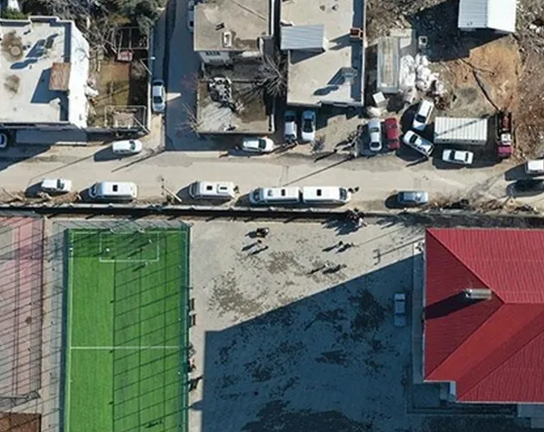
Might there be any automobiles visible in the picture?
Yes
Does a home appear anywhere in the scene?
Yes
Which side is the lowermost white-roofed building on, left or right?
right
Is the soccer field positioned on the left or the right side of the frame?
left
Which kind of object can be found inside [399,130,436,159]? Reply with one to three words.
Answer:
car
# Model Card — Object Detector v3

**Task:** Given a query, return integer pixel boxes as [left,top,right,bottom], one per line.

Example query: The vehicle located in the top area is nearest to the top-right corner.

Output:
[497,114,515,159]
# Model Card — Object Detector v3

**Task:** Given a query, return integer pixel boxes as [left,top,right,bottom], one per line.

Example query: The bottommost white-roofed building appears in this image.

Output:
[433,117,488,146]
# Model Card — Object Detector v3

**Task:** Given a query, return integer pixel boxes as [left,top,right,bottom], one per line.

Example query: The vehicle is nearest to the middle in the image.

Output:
[253,186,299,206]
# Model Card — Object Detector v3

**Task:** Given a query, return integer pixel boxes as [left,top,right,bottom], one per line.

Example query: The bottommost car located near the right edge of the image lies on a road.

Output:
[511,176,544,194]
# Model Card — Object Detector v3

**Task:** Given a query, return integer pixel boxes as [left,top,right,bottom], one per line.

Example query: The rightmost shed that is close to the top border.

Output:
[457,0,515,40]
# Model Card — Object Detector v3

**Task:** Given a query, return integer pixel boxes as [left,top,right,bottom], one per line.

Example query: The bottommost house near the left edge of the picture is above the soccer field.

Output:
[0,17,94,135]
